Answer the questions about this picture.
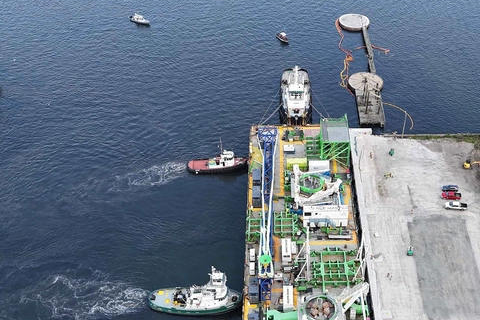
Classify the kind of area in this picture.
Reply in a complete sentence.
What you see here is a port.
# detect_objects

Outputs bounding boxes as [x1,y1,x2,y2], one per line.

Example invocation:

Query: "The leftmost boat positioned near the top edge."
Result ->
[128,12,149,25]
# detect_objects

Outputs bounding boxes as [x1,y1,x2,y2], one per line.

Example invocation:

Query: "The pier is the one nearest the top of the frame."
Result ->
[356,83,385,130]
